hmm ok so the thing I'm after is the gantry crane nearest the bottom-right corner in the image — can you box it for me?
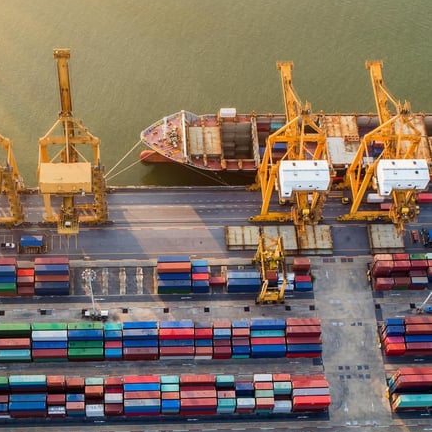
[247,235,295,306]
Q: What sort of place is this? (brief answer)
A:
port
